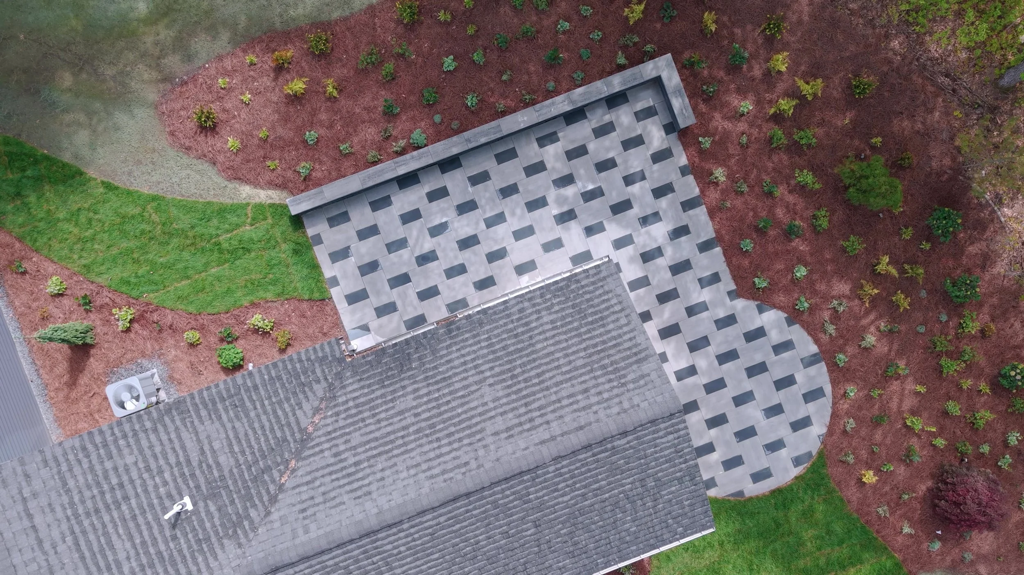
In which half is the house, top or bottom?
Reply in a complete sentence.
You can find the house in the bottom half.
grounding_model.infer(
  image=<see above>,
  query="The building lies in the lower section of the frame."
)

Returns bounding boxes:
[0,256,715,575]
